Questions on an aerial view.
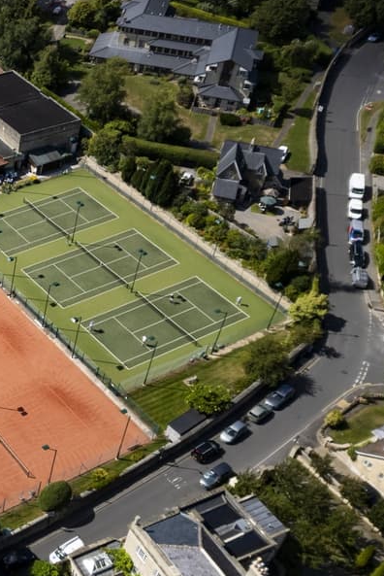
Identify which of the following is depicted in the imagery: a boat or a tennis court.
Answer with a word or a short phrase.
tennis court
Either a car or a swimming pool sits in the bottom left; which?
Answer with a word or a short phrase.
car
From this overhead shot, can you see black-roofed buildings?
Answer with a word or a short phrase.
Yes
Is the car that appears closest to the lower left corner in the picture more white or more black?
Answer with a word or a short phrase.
black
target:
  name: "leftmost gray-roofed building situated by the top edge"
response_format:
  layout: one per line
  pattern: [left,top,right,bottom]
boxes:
[90,0,260,113]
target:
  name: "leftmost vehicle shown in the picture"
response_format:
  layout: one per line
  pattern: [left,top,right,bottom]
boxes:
[0,549,40,570]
